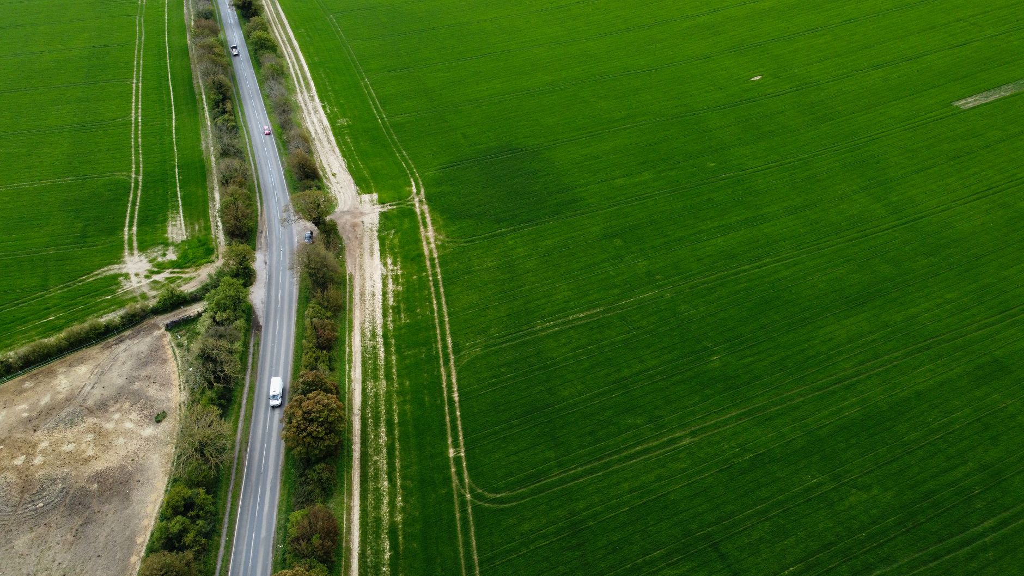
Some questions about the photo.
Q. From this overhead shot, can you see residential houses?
No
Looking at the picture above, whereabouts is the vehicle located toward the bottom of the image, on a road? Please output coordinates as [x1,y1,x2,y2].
[267,376,282,407]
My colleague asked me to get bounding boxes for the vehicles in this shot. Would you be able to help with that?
[262,125,269,134]
[304,231,312,243]
[267,376,282,407]
[232,47,239,55]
